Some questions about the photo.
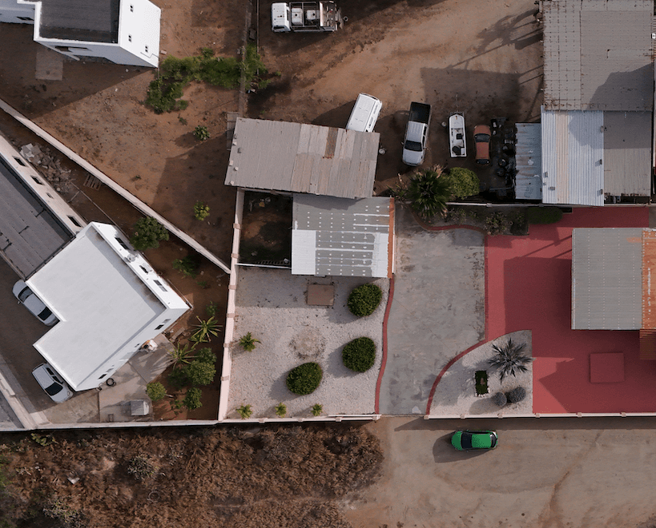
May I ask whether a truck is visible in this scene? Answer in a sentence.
Yes, I can see a truck in this picture.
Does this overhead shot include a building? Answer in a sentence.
Yes, there's a building here.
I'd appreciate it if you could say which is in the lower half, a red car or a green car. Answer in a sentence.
You can see a green car in the lower half.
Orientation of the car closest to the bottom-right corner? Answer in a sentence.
From this overhead view, the car closest to the bottom-right corner appears to run from side to side.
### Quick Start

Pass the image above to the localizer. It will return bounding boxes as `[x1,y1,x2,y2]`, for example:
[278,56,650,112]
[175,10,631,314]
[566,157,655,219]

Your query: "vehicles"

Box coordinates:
[343,92,380,131]
[269,0,342,32]
[26,361,74,406]
[401,100,432,167]
[470,124,493,166]
[452,429,499,453]
[10,280,60,332]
